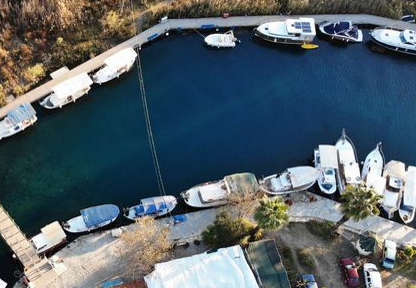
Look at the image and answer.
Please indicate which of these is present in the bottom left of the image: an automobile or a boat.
boat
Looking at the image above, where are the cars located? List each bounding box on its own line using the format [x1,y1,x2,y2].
[359,263,386,288]
[378,239,400,272]
[337,258,362,288]
[299,275,320,288]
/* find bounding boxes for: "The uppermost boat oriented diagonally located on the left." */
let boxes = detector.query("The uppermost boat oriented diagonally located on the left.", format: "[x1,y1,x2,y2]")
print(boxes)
[93,43,139,82]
